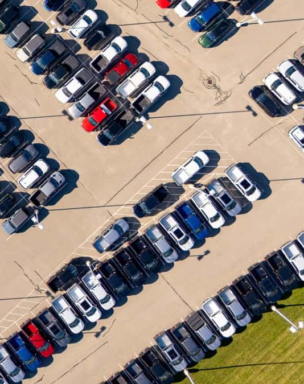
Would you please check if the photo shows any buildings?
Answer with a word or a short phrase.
No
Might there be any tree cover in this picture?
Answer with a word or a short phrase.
No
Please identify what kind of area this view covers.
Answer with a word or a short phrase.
parking lot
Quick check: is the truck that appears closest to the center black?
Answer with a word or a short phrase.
Yes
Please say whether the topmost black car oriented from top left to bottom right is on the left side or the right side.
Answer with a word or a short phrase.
right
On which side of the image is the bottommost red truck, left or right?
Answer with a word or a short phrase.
left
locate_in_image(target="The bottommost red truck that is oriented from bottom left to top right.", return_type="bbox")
[80,94,121,133]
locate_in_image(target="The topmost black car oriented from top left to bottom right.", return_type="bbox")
[245,83,283,119]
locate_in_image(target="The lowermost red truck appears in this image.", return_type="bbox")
[19,316,57,359]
